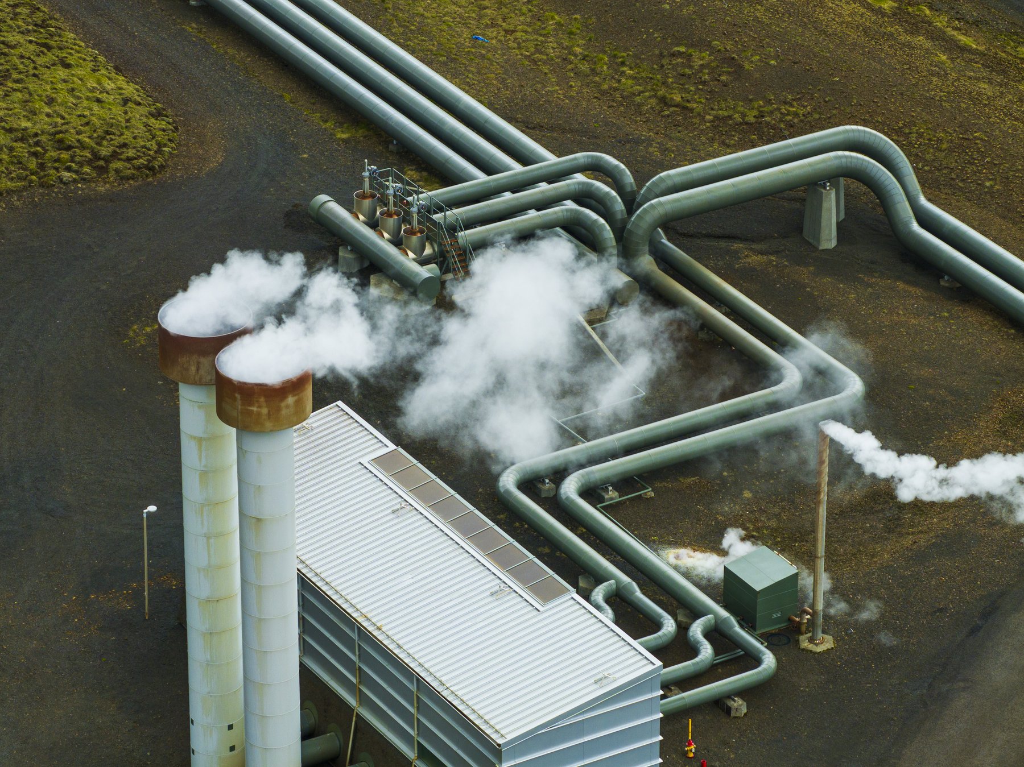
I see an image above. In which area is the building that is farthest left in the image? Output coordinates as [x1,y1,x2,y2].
[293,399,664,767]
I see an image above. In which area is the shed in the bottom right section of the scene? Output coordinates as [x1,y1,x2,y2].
[724,546,800,634]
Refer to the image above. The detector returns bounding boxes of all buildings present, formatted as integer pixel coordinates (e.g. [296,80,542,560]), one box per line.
[293,399,664,767]
[724,546,800,634]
